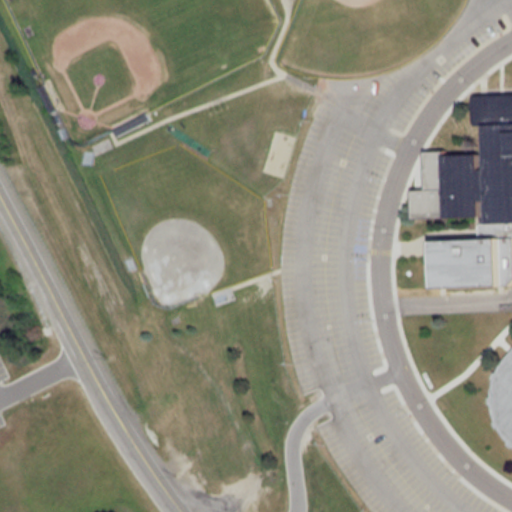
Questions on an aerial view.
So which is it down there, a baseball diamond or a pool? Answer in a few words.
baseball diamond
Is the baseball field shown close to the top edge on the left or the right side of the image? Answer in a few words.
left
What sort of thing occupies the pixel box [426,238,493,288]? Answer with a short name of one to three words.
building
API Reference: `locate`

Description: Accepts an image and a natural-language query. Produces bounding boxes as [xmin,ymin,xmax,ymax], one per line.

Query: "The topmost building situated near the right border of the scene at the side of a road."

[410,92,512,237]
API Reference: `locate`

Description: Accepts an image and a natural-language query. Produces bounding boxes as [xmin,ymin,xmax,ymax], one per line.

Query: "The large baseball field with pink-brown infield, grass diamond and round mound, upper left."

[2,0,280,143]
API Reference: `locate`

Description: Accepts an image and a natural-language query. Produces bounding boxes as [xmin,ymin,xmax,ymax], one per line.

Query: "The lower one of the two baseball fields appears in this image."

[102,146,271,306]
